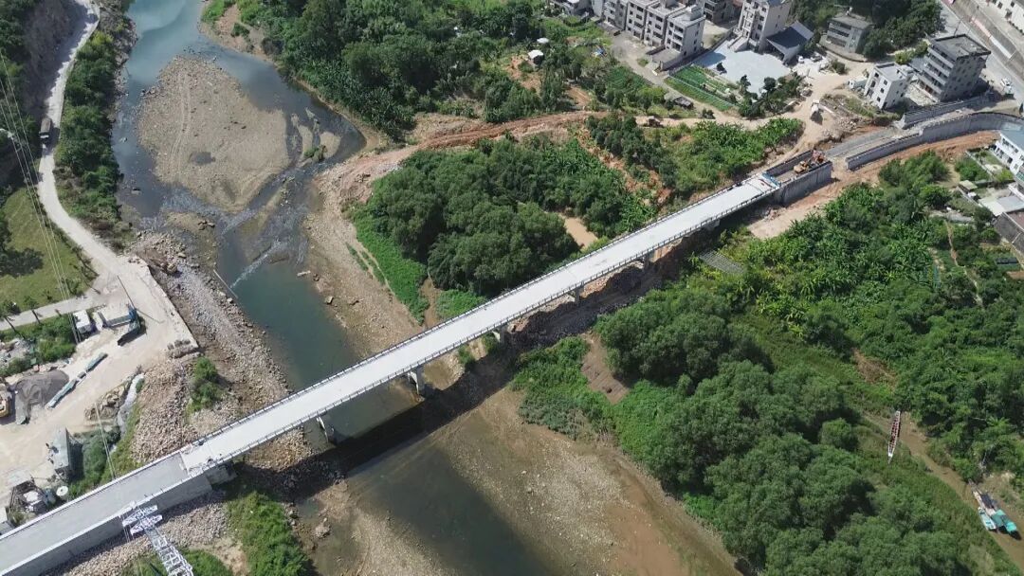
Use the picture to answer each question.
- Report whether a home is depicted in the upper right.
Yes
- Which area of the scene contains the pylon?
bottom left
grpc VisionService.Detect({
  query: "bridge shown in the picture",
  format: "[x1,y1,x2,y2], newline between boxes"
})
[179,171,781,482]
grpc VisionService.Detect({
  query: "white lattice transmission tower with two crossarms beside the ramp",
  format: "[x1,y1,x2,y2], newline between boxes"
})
[120,508,198,576]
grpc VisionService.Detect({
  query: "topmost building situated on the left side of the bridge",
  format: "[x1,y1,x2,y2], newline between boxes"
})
[72,308,95,335]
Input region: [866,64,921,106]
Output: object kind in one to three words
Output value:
house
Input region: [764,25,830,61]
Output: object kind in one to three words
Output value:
building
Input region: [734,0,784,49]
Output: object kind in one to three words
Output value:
house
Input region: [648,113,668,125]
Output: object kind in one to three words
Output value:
vehicle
